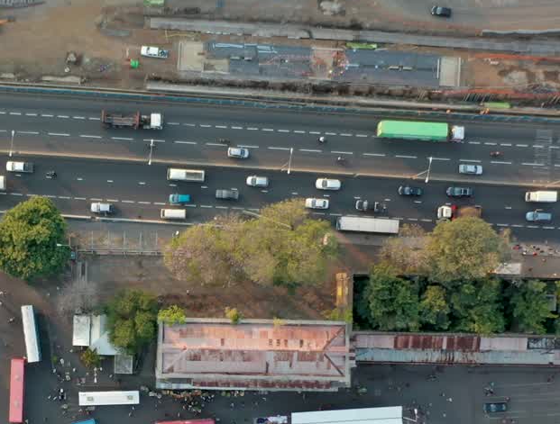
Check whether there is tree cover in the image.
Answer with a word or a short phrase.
Yes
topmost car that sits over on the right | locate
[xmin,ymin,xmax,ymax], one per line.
[426,6,453,19]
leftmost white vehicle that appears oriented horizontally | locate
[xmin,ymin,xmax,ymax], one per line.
[6,161,35,173]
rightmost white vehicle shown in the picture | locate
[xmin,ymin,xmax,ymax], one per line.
[521,189,559,206]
